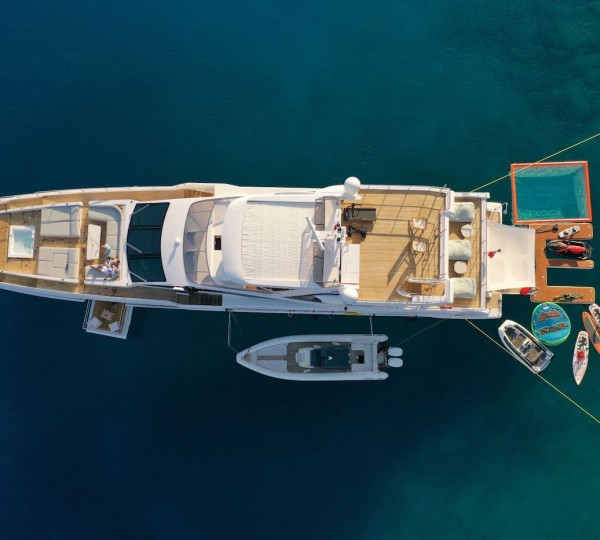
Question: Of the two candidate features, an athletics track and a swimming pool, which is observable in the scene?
swimming pool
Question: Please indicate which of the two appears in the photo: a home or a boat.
boat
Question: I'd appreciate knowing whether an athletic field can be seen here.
No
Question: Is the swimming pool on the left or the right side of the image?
right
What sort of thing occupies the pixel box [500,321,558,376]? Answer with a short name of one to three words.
boat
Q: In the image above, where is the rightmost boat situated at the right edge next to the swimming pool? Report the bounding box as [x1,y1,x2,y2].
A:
[547,240,596,260]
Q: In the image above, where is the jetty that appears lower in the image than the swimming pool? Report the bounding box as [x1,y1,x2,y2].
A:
[528,223,595,303]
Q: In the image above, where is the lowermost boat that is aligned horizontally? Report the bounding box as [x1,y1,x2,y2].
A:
[237,334,403,381]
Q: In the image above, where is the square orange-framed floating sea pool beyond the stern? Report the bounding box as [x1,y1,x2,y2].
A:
[510,162,592,223]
